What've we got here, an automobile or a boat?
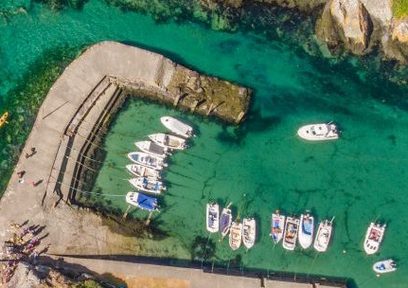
boat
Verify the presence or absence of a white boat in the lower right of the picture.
Yes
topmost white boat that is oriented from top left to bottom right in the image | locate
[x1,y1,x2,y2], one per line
[161,116,195,141]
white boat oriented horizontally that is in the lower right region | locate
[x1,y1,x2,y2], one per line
[373,259,400,272]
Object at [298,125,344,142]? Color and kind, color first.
white boat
